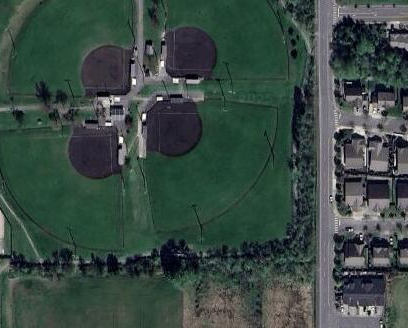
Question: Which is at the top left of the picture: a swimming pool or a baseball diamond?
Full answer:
There is a baseball diamond at the top left of the picture.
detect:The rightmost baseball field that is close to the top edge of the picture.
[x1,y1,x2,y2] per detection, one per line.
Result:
[166,0,288,79]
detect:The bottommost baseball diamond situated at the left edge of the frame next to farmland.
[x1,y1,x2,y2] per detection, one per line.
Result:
[0,125,122,249]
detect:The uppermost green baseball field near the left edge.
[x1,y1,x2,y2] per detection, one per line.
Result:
[10,0,131,97]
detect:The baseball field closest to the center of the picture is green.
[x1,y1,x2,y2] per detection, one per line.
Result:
[145,100,276,232]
